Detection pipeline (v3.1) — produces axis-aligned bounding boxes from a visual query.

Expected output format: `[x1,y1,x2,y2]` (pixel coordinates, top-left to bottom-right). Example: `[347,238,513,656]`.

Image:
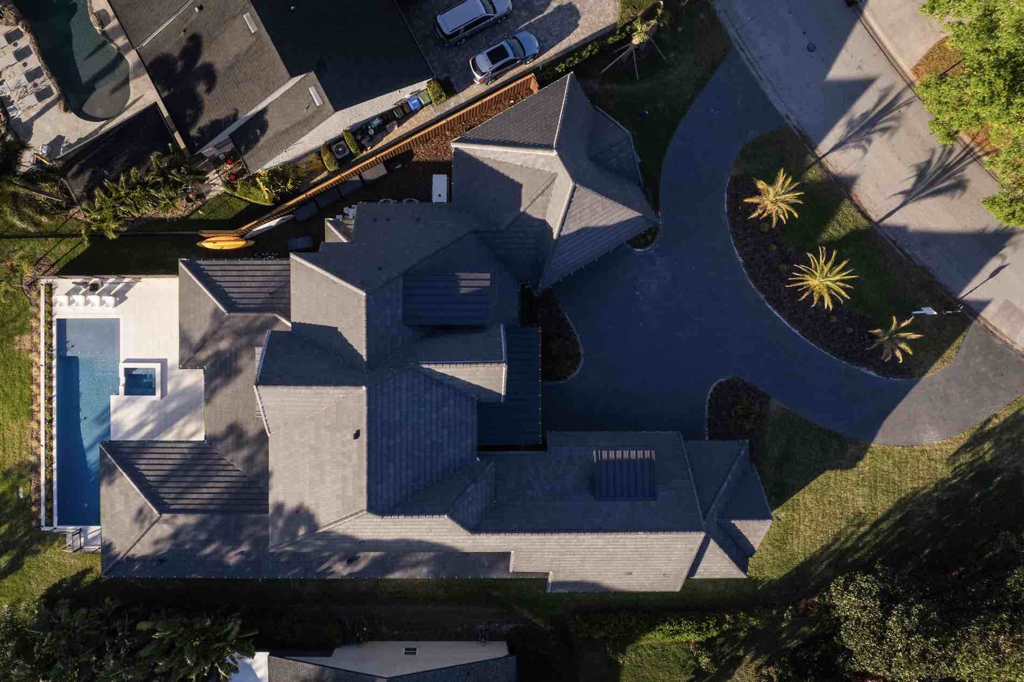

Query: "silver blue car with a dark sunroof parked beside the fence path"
[467,31,539,86]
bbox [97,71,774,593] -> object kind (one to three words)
house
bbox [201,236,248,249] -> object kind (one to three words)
boat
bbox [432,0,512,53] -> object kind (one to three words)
car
